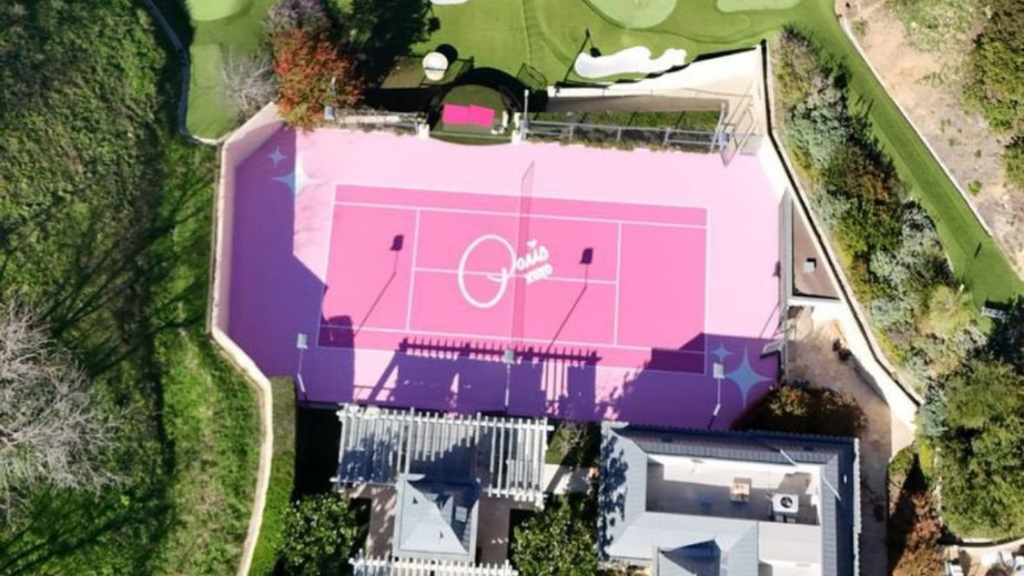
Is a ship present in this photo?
No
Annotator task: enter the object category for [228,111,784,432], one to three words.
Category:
tennis court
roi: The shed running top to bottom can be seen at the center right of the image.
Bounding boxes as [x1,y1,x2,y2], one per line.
[777,189,843,327]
